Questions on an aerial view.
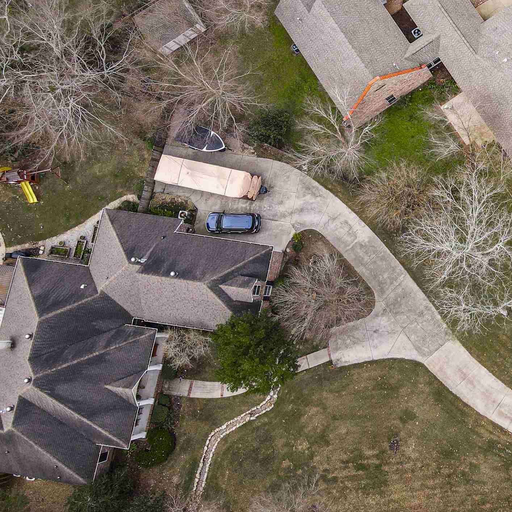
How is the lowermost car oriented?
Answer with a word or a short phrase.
horizontally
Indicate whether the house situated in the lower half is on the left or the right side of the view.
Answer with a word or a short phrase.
left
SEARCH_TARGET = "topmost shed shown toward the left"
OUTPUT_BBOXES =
[122,0,206,54]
